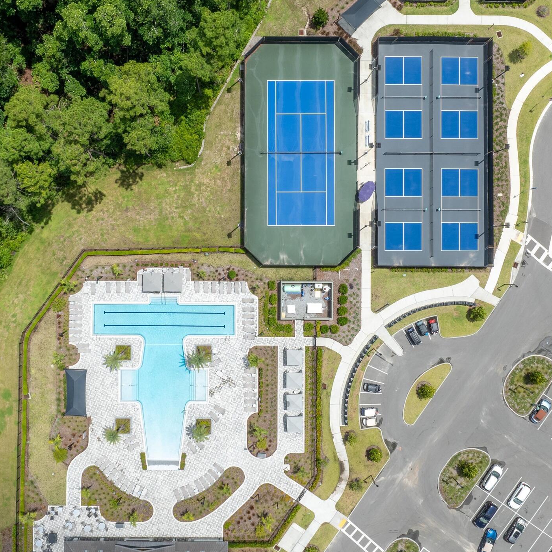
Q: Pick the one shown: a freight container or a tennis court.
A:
tennis court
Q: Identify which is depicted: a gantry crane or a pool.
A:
pool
